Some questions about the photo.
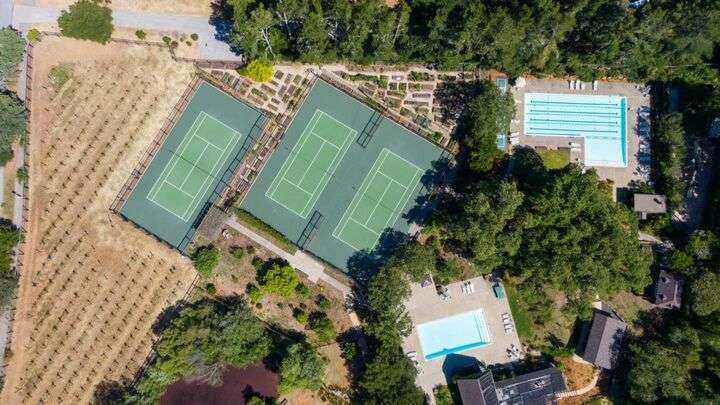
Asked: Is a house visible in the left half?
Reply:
No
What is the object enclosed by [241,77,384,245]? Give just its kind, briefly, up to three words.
tennis court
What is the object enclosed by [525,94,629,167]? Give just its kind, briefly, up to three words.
swimming pool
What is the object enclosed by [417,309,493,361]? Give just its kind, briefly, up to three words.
swimming pool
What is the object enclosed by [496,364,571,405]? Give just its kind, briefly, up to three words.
house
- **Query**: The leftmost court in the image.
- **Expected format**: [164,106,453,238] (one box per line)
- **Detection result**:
[120,81,262,252]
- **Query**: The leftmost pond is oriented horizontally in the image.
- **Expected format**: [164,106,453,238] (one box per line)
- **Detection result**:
[146,349,283,405]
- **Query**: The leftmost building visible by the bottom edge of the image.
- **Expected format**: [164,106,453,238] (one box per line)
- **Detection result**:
[455,366,503,405]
